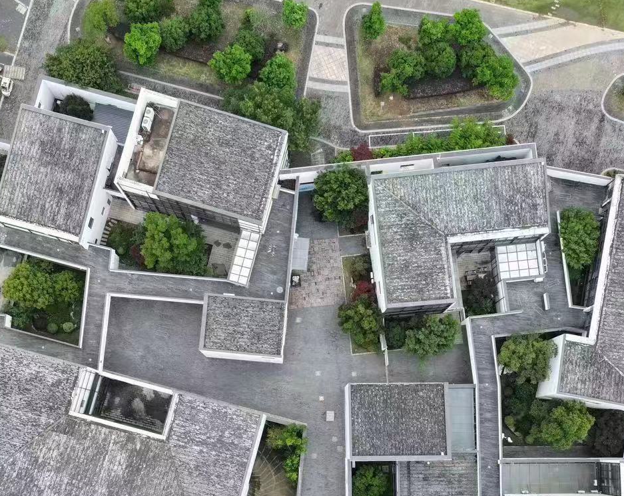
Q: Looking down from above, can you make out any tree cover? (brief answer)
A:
Yes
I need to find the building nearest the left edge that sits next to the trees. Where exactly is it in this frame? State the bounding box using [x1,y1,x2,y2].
[0,103,118,249]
